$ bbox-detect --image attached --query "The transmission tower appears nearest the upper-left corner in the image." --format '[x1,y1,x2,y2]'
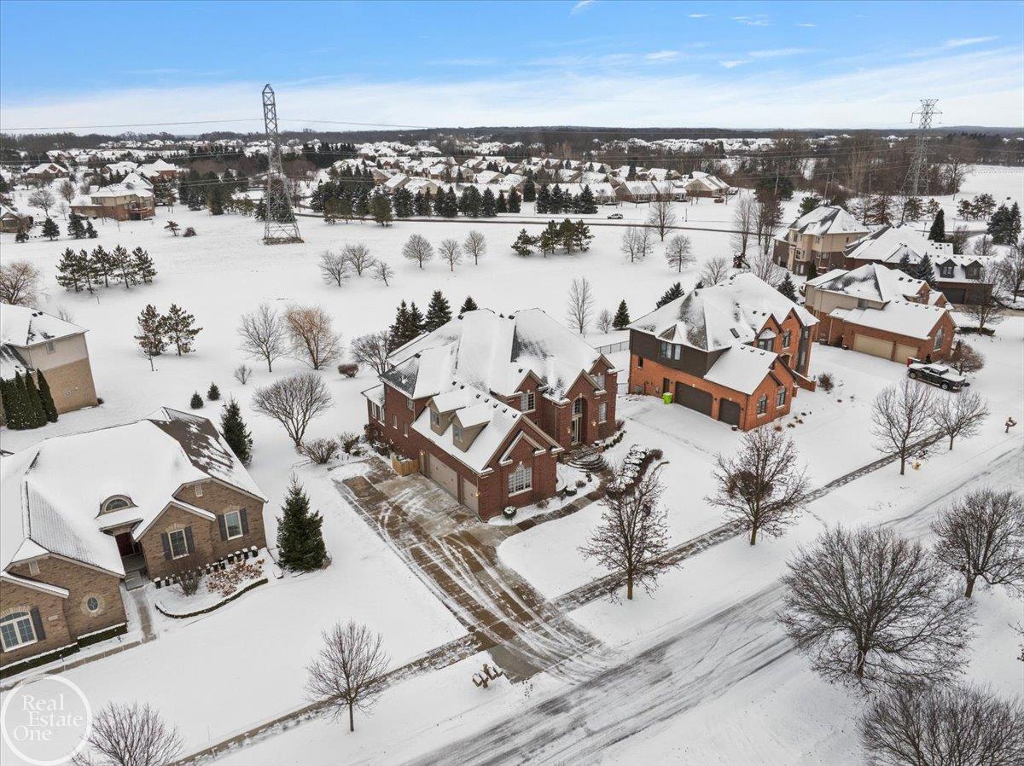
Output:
[259,83,299,243]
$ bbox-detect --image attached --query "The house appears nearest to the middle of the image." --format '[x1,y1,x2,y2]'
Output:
[361,306,624,521]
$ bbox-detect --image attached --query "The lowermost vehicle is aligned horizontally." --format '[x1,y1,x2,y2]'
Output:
[907,367,970,390]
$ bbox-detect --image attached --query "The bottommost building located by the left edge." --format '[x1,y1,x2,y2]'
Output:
[0,407,271,663]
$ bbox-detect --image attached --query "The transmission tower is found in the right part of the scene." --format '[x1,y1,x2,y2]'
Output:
[897,93,946,197]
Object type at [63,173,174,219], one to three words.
house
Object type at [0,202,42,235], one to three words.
house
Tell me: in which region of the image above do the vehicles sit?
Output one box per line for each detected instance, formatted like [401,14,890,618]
[608,214,623,220]
[907,367,970,390]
